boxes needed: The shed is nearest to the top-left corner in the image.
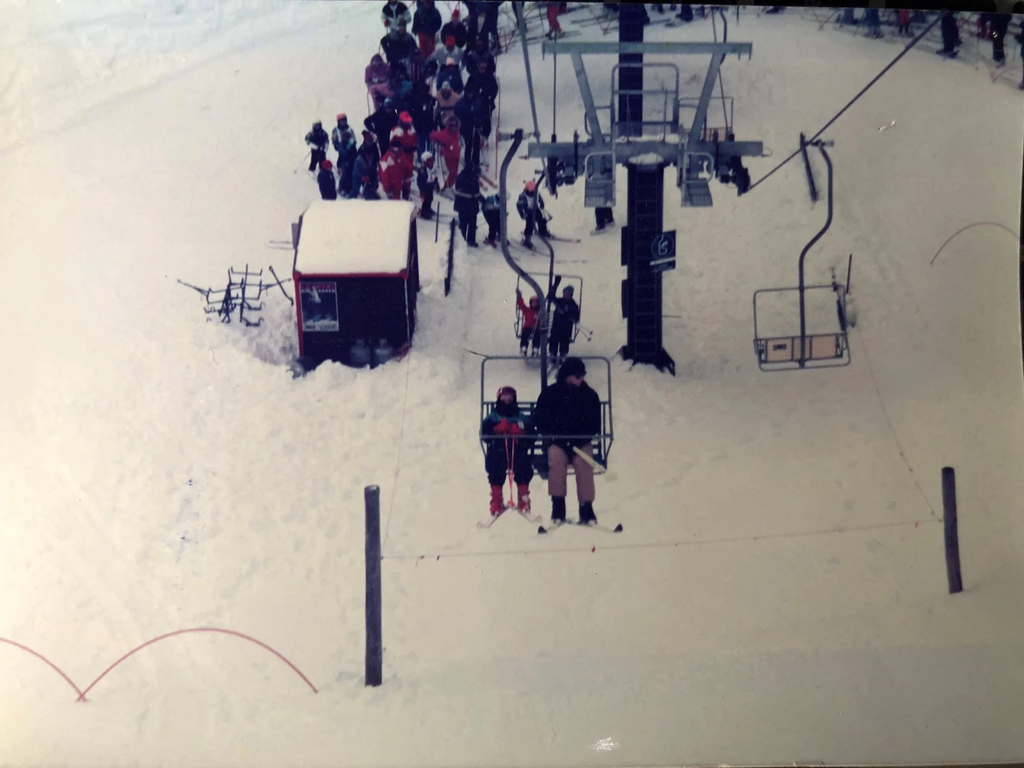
[286,204,419,381]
